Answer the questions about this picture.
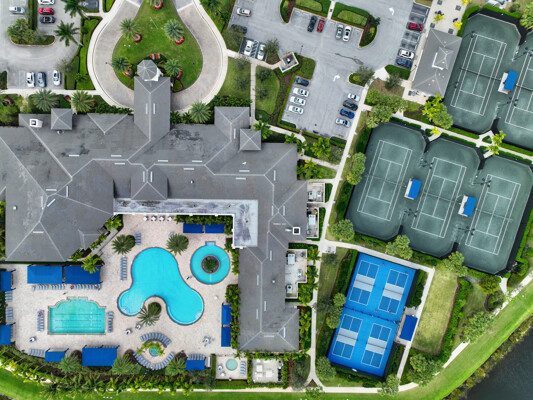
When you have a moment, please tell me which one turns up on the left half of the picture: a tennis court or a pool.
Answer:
pool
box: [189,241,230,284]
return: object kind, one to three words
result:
swimming pool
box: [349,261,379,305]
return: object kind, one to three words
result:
sports court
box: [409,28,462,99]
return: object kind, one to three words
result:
building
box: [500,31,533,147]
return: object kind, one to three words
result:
tennis court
